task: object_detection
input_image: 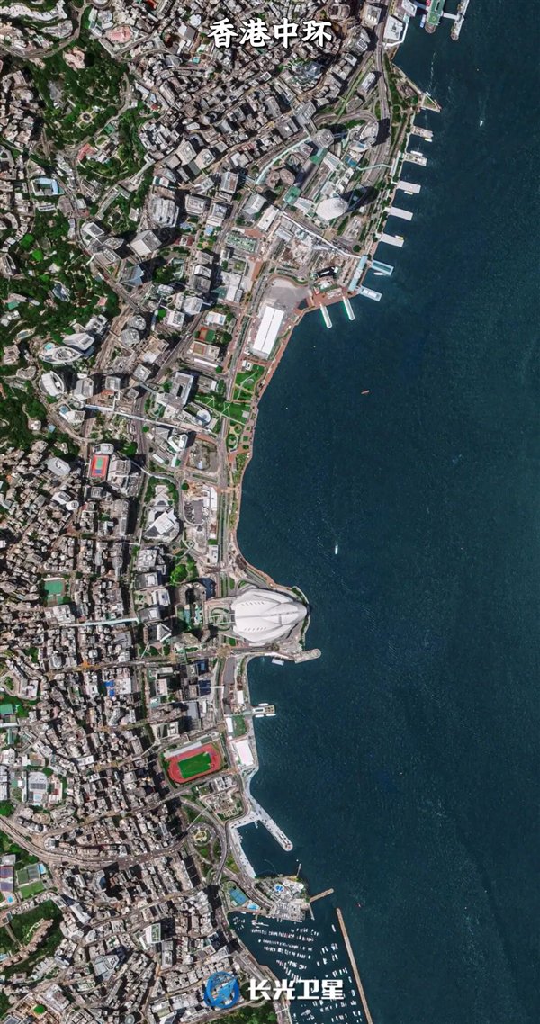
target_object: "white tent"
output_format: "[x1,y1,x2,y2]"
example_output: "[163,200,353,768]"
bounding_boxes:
[252,306,285,355]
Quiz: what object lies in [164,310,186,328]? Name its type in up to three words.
building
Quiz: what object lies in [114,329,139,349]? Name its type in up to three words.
building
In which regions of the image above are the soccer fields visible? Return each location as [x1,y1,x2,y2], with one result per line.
[175,752,210,779]
[43,577,64,596]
